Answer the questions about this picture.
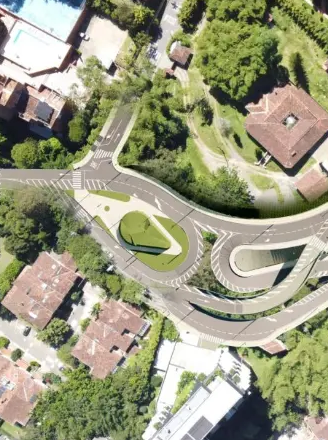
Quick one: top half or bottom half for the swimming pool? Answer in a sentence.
The swimming pool sits in the top half of the picture.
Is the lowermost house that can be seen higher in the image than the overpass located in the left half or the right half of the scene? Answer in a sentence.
The lowermost house that can be seen higher in the image than the overpass sits on the right side.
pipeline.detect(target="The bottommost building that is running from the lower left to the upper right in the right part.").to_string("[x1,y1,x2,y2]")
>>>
[150,365,246,440]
